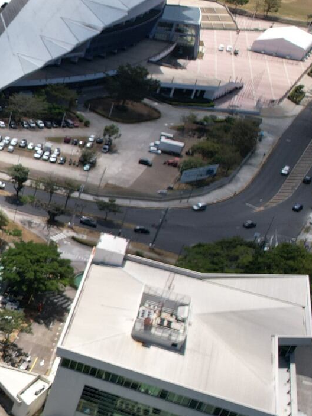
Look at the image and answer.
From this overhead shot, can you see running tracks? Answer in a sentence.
No, there isn't any running track down there.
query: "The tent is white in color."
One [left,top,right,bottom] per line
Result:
[251,22,312,60]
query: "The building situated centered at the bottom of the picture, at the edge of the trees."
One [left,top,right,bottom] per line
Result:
[41,234,312,416]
